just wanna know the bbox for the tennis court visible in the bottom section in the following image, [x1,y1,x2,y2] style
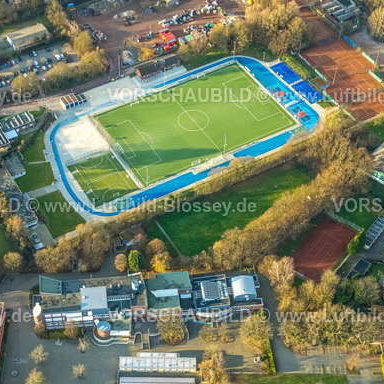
[293,213,359,282]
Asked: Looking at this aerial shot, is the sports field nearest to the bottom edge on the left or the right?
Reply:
left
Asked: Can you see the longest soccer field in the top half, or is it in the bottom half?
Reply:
top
